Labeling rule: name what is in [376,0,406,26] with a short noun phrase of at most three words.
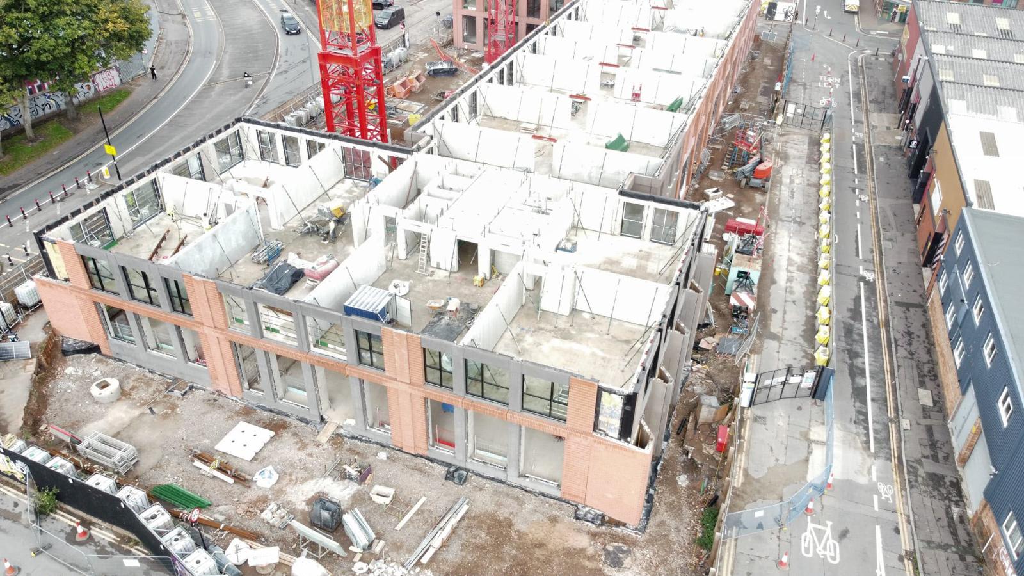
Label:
vehicle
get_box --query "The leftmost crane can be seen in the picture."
[312,0,394,179]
